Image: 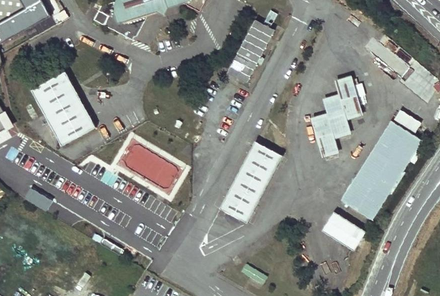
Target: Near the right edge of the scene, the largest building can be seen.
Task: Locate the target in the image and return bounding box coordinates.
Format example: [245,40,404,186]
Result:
[340,121,422,220]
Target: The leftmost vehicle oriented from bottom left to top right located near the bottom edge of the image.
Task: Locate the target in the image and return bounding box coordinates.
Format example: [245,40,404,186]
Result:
[75,271,92,292]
